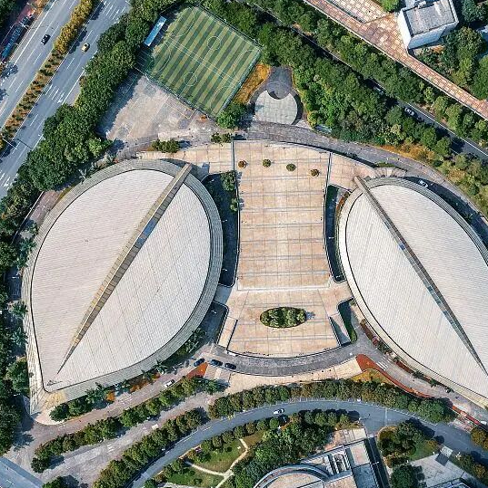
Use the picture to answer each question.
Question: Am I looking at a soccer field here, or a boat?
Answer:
soccer field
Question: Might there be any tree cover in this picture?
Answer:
Yes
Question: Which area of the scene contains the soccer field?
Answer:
top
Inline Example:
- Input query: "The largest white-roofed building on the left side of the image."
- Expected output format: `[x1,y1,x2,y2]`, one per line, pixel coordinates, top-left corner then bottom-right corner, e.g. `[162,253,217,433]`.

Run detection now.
[26,158,222,416]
